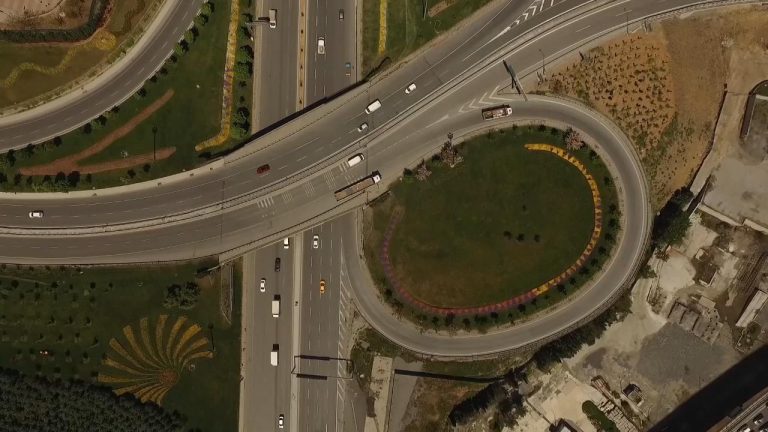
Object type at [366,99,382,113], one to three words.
vehicle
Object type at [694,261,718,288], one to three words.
shed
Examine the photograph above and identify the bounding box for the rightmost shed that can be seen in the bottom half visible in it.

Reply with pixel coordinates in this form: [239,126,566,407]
[731,290,768,326]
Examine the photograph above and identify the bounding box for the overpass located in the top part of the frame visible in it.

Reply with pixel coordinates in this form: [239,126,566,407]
[221,80,373,262]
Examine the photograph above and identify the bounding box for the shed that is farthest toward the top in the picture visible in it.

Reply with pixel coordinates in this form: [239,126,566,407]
[735,80,768,136]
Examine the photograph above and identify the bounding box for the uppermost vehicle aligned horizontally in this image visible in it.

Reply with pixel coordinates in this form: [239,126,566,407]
[482,106,511,120]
